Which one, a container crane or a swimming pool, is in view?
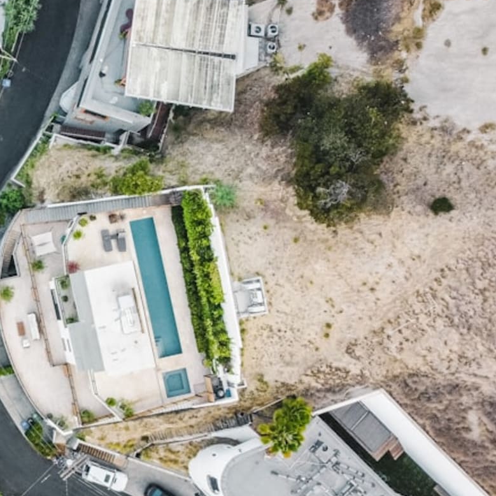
swimming pool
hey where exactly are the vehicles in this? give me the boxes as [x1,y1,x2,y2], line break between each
[79,460,133,495]
[141,482,176,496]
